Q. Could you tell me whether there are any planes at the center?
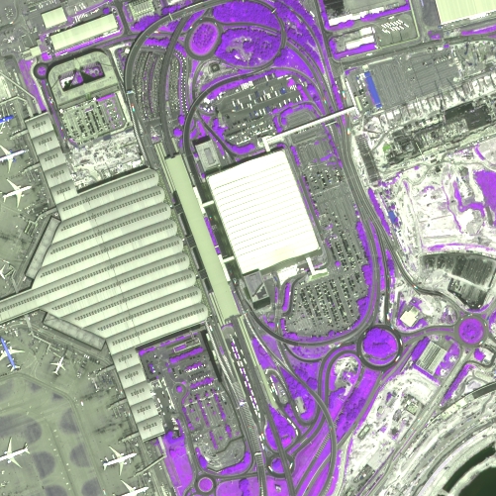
No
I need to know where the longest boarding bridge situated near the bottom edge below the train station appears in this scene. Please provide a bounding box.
[134,437,167,478]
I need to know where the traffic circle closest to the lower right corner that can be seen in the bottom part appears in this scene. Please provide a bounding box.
[454,313,489,348]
